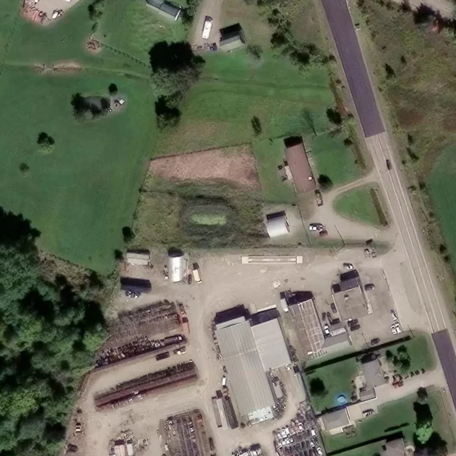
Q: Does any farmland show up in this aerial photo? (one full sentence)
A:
Yes, some farmland is visible.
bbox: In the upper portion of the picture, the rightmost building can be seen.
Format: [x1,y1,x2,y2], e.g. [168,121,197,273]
[286,143,318,192]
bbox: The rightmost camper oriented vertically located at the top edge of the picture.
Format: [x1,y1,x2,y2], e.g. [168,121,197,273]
[202,15,214,39]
